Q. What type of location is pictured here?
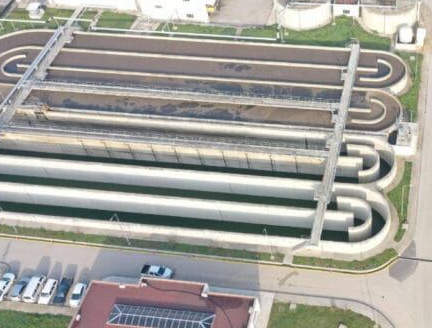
industrial area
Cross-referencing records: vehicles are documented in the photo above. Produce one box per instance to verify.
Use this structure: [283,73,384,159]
[0,270,16,300]
[53,275,78,306]
[140,264,175,279]
[21,274,49,302]
[69,282,89,307]
[38,276,61,305]
[10,276,32,301]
